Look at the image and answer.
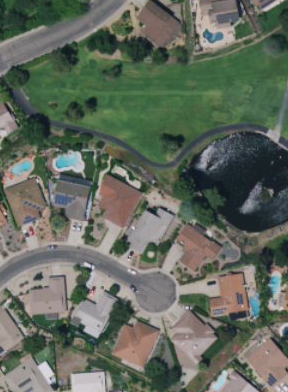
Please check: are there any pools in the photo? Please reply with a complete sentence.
Yes, there's a pool here.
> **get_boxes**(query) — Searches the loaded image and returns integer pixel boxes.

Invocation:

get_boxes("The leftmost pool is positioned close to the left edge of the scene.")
[10,159,33,177]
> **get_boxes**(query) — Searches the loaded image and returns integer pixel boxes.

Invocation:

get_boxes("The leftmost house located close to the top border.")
[136,0,182,48]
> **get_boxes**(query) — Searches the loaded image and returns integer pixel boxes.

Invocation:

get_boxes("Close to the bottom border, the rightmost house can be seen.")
[244,338,288,386]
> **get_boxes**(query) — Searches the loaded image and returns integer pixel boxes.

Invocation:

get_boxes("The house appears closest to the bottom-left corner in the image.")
[6,354,56,392]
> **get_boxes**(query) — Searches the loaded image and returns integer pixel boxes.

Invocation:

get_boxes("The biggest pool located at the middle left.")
[54,150,84,171]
